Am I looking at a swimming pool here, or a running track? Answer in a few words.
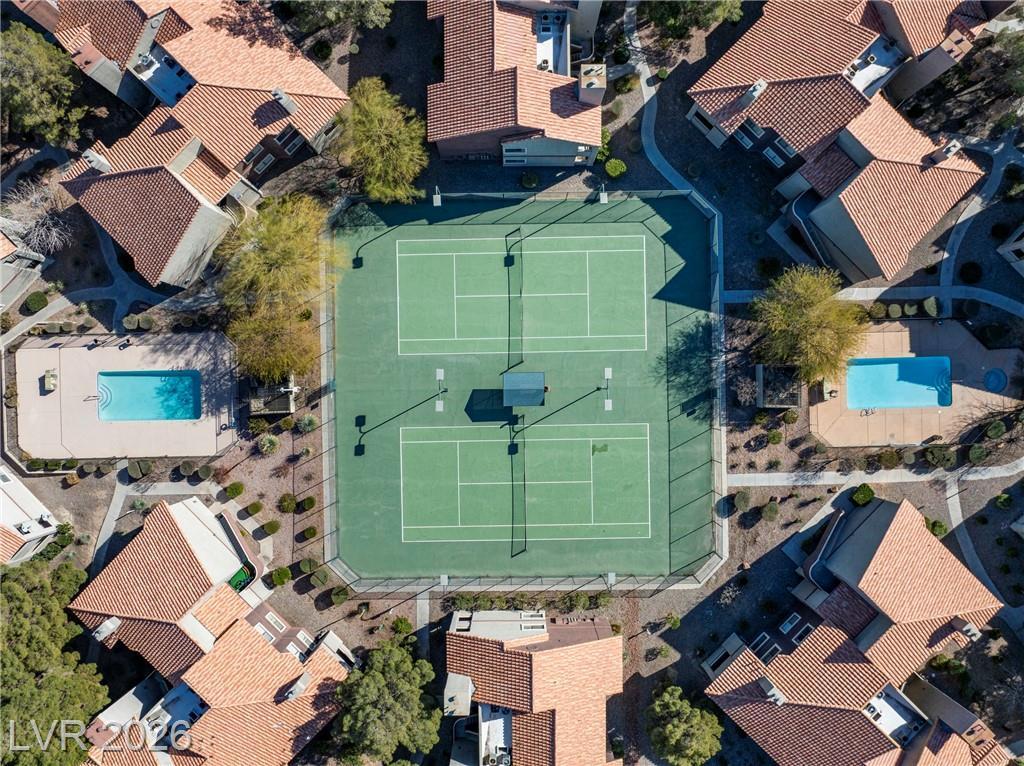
swimming pool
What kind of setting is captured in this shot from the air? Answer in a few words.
residential area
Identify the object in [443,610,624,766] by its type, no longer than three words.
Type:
house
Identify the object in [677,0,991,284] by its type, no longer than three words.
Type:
house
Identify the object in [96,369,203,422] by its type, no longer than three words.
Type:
swimming pool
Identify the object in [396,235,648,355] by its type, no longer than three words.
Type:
tennis court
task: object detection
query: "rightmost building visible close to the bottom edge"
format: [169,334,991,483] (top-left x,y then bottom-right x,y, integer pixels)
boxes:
[692,498,1011,766]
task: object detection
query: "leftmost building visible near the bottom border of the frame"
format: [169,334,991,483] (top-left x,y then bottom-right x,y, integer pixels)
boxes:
[68,495,362,766]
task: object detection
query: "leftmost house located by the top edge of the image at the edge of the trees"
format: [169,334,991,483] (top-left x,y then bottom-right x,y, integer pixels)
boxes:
[15,0,356,290]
